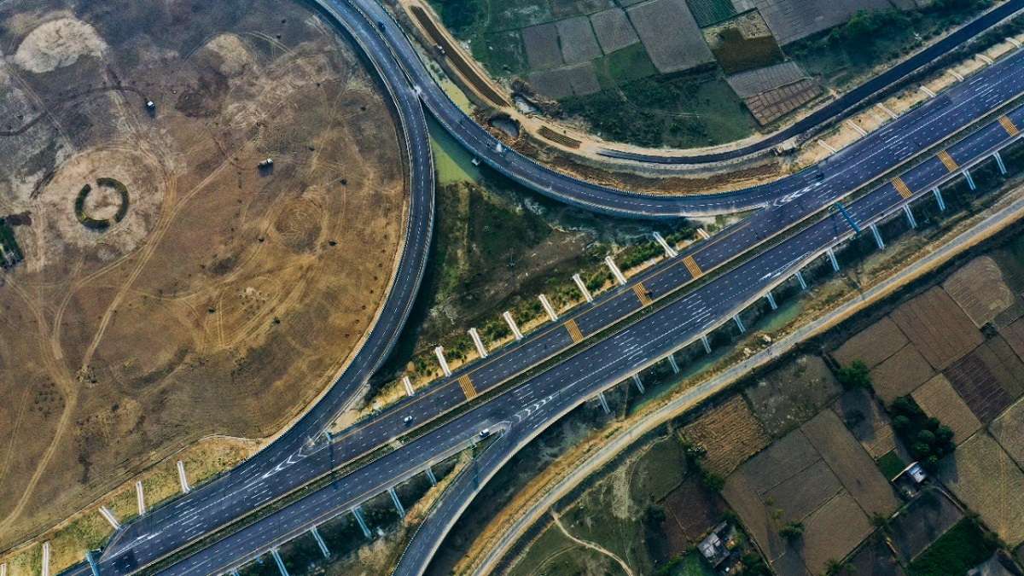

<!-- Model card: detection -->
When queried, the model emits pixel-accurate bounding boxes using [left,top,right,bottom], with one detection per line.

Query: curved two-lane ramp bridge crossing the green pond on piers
[351,0,854,220]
